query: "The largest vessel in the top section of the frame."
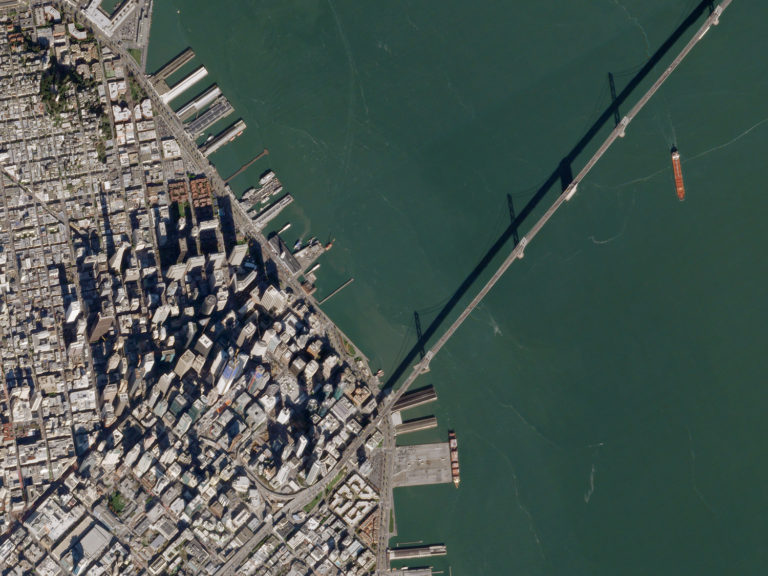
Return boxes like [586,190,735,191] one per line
[672,150,685,201]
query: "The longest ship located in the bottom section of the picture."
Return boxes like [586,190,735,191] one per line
[448,431,460,488]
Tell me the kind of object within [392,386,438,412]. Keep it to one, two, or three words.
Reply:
pier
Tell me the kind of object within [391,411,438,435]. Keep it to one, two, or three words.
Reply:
pier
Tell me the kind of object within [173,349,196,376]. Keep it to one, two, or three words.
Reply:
building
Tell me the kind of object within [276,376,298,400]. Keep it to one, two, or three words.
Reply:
building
